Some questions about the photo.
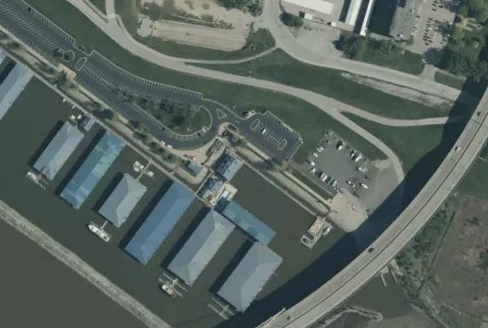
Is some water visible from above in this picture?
Yes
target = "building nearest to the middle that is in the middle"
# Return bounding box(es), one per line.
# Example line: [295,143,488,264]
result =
[216,153,243,182]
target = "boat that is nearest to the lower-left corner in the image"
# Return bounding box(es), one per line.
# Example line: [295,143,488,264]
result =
[91,227,110,241]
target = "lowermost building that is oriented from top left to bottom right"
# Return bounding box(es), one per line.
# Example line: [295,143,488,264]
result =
[222,199,277,245]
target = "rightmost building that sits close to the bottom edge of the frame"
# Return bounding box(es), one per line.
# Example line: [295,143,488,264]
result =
[217,241,284,313]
